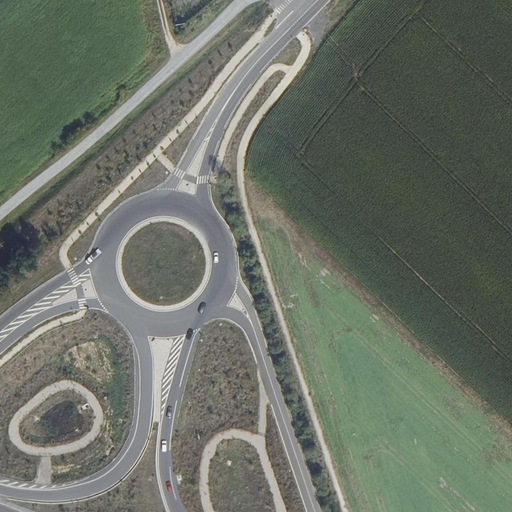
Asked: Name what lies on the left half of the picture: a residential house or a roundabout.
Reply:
roundabout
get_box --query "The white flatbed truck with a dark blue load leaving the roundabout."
[84,248,102,265]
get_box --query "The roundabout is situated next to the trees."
[90,190,238,338]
